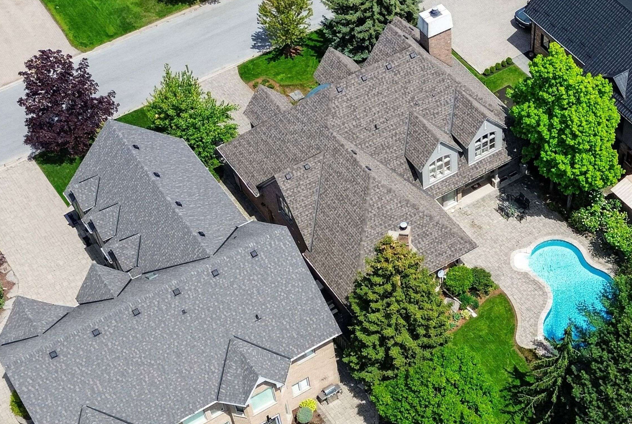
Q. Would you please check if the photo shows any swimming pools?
Yes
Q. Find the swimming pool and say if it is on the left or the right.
right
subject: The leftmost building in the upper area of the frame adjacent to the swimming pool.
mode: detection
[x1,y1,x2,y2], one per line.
[216,4,541,322]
